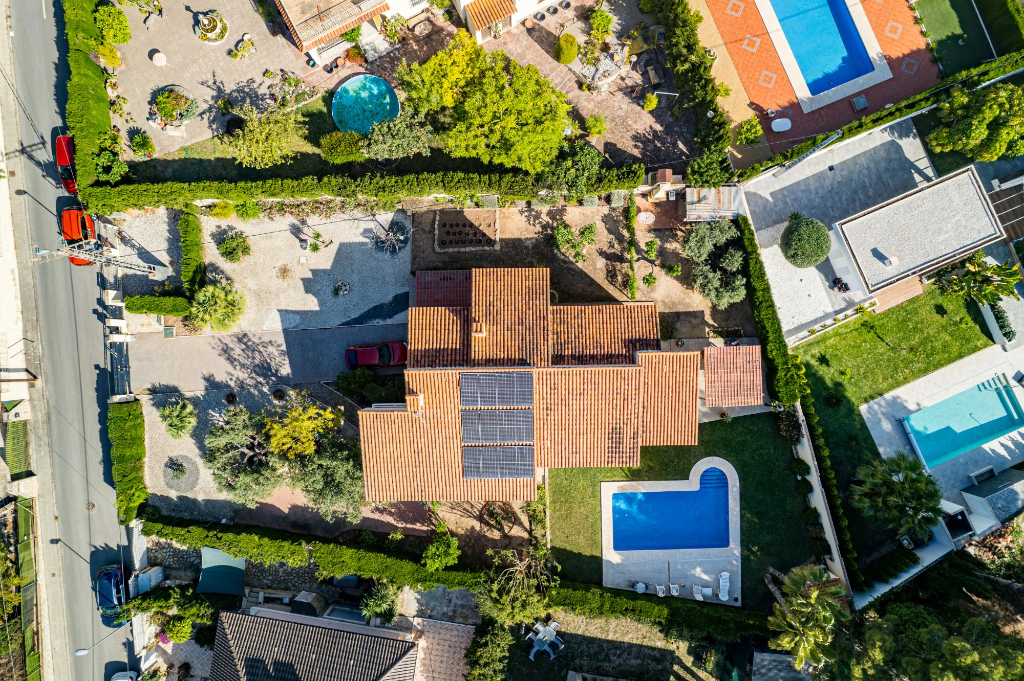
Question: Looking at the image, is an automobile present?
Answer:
Yes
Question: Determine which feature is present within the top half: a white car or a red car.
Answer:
red car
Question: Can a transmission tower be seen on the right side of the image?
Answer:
No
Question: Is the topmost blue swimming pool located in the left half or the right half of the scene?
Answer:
right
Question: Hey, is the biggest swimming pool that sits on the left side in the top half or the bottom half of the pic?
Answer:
top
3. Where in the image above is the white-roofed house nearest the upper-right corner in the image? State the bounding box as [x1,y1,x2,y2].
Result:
[815,165,1024,298]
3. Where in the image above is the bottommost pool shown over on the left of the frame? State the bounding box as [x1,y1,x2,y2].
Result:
[331,70,399,143]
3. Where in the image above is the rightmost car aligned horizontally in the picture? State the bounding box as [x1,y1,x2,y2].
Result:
[346,340,406,370]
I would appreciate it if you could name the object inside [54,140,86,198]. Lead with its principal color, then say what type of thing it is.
red car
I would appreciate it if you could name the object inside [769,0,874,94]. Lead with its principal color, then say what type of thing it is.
blue swimming pool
